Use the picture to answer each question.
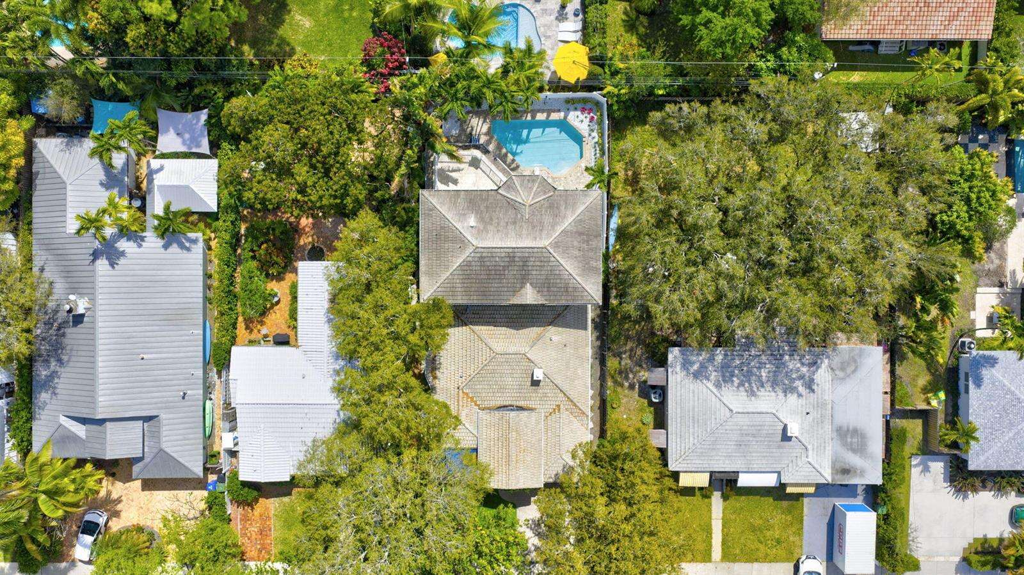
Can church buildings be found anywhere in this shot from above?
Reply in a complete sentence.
No, I can see no church building in this picture.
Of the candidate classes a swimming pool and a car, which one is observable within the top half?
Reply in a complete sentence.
You can see a swimming pool within the top half.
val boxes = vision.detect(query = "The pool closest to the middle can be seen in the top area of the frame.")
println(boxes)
[487,115,587,178]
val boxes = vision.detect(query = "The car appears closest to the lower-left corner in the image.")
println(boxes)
[74,507,113,564]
